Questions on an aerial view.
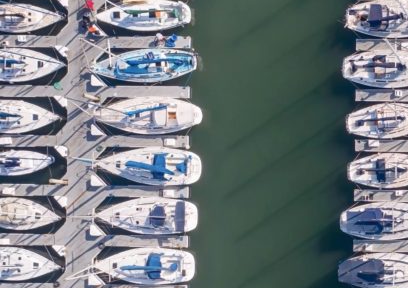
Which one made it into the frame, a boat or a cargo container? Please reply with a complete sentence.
Visible in the photo is a boat.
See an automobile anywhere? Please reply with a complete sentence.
No, I can see no automobile in this picture.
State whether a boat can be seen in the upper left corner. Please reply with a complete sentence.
Yes, I can see a boat in the upper left corner.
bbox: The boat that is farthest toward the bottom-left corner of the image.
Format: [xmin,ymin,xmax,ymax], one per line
[0,246,67,284]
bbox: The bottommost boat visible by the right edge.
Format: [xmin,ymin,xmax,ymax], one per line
[338,247,408,288]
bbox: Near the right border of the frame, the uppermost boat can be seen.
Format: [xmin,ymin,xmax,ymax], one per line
[344,0,408,41]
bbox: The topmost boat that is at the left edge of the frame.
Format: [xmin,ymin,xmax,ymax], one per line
[0,0,84,35]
